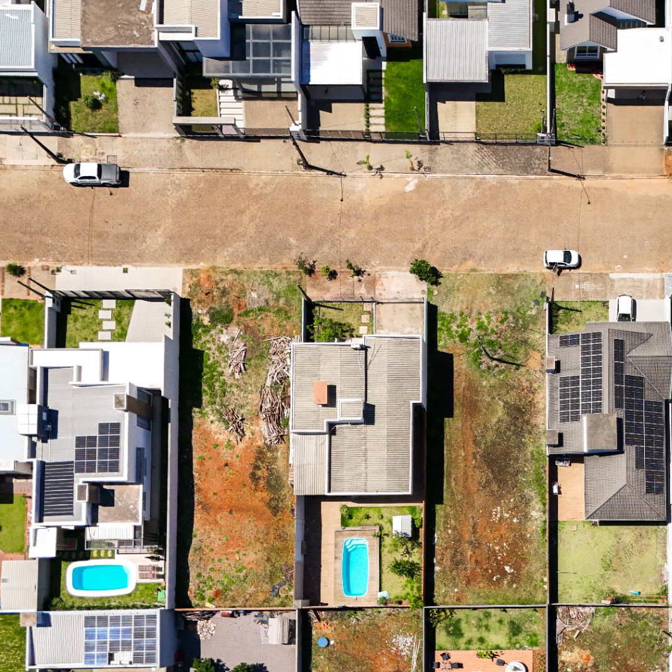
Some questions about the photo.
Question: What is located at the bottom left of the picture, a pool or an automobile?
pool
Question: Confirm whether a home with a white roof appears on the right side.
Yes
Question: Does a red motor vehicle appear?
No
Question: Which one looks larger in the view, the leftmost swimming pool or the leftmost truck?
the swimming pool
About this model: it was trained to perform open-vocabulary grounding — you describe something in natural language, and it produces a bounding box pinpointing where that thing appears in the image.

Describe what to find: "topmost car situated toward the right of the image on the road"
[543,249,579,277]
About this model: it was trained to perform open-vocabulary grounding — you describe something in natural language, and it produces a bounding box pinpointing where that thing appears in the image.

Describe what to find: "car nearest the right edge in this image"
[615,289,635,322]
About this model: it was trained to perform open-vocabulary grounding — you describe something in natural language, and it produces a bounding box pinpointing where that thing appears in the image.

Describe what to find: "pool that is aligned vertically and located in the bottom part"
[342,537,368,598]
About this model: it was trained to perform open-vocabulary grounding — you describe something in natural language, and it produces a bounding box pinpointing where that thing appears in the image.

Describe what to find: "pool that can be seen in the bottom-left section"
[64,559,137,597]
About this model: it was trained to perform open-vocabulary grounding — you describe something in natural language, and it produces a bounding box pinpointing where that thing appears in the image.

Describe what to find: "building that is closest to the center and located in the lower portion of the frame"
[291,335,427,497]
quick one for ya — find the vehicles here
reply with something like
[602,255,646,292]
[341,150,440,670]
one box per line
[615,289,635,322]
[62,159,118,185]
[543,249,579,277]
